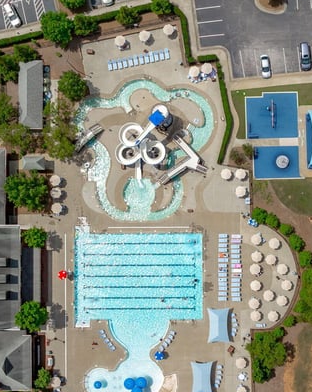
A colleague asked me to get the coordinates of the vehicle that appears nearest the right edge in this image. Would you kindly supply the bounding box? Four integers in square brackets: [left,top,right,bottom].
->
[299,44,312,71]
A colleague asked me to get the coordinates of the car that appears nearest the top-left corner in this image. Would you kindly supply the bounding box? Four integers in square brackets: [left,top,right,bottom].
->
[3,2,20,30]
